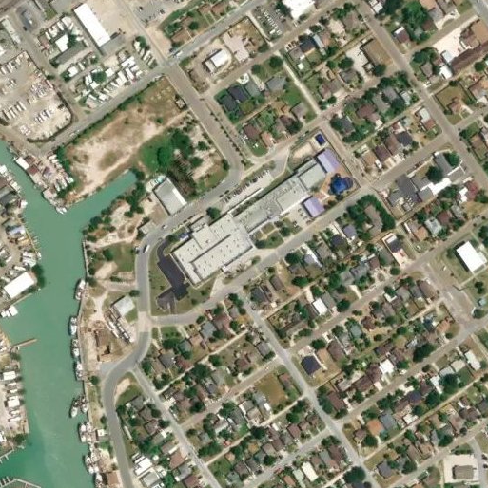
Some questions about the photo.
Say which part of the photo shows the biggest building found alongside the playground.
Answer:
center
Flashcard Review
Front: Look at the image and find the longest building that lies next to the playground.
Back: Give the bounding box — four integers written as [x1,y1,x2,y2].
[173,160,326,284]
